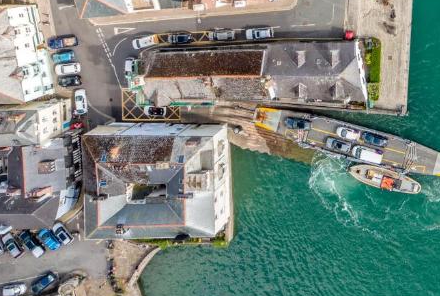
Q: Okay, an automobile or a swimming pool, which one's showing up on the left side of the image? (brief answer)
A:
automobile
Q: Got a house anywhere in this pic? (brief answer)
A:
Yes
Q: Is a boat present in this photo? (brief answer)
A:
Yes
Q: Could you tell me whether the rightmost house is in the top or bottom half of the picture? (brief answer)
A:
top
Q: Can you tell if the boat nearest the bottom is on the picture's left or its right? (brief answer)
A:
right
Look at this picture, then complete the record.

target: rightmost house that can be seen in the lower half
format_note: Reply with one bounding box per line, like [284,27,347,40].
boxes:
[81,120,230,240]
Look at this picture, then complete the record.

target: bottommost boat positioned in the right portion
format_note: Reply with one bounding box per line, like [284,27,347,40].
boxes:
[348,165,422,193]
